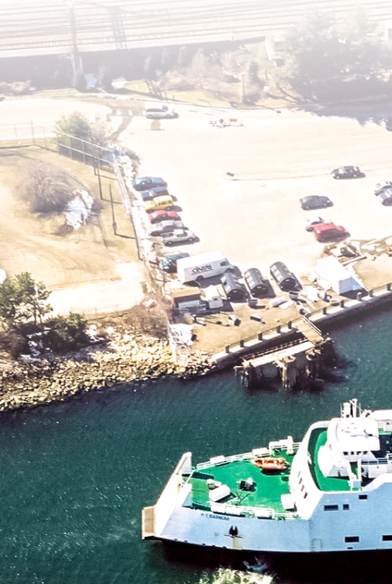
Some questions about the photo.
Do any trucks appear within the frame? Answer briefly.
Yes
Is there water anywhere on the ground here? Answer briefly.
Yes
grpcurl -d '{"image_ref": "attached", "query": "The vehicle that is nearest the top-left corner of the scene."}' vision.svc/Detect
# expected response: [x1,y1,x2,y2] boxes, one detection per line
[143,104,177,120]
